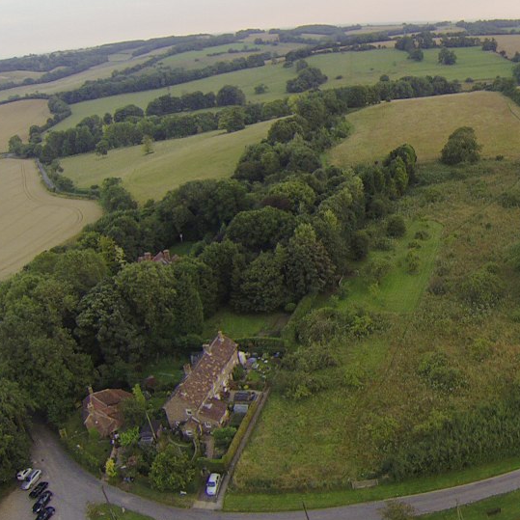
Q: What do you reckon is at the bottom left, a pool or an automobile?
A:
automobile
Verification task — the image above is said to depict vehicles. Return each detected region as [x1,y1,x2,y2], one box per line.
[34,504,55,520]
[27,478,50,497]
[207,470,220,492]
[33,489,51,508]
[14,462,32,479]
[21,466,41,486]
